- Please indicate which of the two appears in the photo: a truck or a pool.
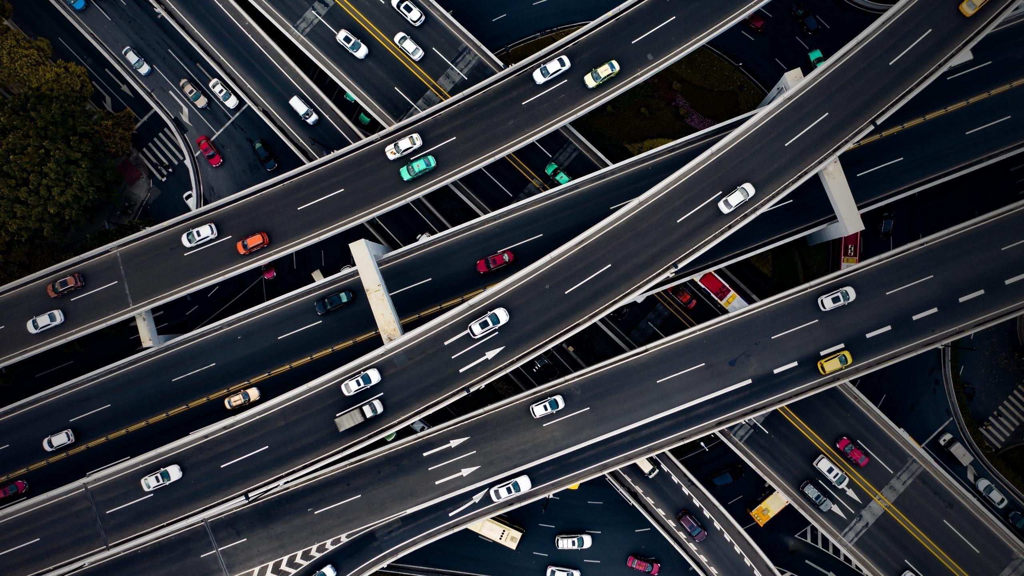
truck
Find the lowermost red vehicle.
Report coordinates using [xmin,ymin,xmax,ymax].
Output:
[625,554,661,576]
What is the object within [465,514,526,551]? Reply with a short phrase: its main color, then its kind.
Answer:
white bus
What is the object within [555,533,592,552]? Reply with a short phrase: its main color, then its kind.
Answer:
white car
